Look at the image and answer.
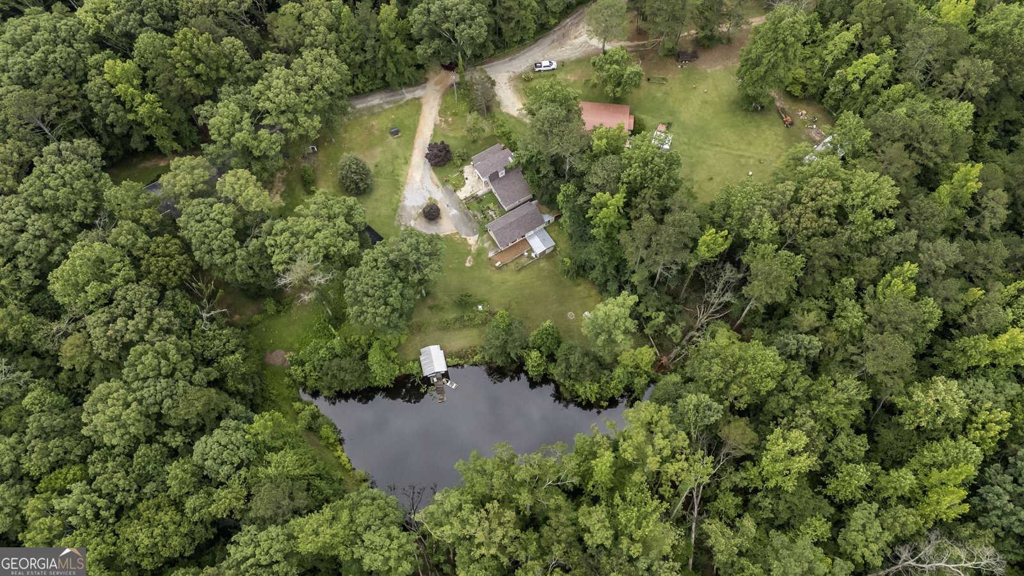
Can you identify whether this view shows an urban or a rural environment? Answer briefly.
rural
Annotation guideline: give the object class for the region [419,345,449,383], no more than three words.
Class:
building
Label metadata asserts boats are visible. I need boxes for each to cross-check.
[441,377,458,389]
